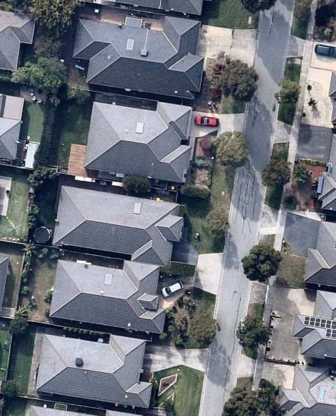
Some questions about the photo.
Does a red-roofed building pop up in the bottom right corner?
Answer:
No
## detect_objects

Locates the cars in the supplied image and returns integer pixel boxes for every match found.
[161,281,183,297]
[194,115,219,127]
[314,43,336,57]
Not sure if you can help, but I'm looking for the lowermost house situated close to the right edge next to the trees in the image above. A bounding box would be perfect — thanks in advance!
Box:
[277,364,336,416]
